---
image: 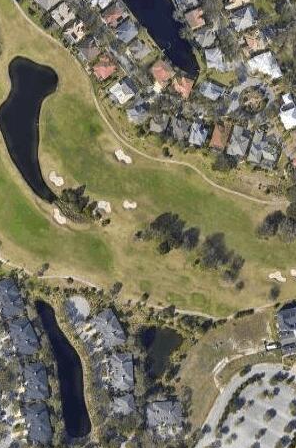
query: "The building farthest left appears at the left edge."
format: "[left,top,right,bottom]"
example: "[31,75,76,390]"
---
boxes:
[0,278,22,318]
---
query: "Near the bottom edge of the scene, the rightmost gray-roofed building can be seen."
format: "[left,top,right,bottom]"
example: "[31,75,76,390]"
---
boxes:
[147,400,184,431]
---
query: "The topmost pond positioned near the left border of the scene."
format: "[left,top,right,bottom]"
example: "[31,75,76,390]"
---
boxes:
[0,57,57,202]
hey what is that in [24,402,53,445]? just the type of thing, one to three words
building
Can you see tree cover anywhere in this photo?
Yes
